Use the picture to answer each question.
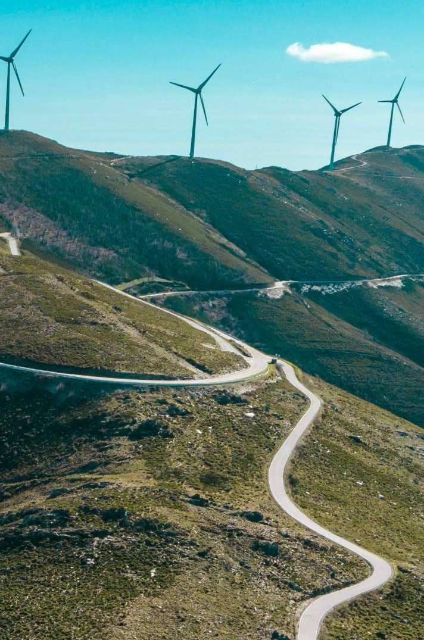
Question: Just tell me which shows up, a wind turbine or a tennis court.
wind turbine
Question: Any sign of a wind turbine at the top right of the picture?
Yes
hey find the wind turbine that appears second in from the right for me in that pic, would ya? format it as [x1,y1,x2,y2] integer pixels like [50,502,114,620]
[317,96,362,169]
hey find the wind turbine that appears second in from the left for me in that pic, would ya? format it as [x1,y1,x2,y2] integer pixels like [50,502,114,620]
[164,61,219,161]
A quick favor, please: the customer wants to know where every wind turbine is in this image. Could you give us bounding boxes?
[370,76,404,146]
[0,23,30,132]
[317,96,362,169]
[164,61,219,161]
